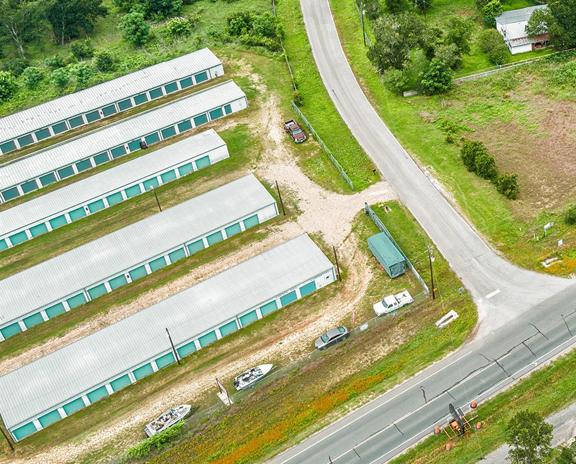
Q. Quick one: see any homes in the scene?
Yes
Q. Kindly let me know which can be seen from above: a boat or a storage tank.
boat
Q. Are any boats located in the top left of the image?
No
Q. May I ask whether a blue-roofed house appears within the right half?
No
